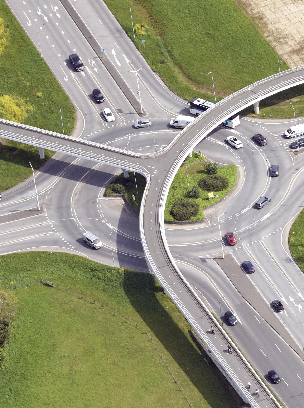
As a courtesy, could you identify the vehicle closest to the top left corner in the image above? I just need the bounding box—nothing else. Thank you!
[70,52,84,70]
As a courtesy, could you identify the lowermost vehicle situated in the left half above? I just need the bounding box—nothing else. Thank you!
[83,231,102,248]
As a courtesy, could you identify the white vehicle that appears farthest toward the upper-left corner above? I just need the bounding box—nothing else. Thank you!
[102,108,115,121]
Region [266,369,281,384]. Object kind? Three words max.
car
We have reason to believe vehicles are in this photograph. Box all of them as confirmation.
[266,369,281,384]
[70,52,84,70]
[91,86,105,102]
[189,96,239,128]
[252,133,270,146]
[133,118,152,129]
[224,310,237,325]
[253,195,274,208]
[270,164,280,177]
[284,123,304,139]
[271,299,285,313]
[241,259,256,274]
[225,232,236,246]
[83,231,102,248]
[170,113,199,130]
[291,137,304,149]
[102,108,115,121]
[225,135,244,149]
